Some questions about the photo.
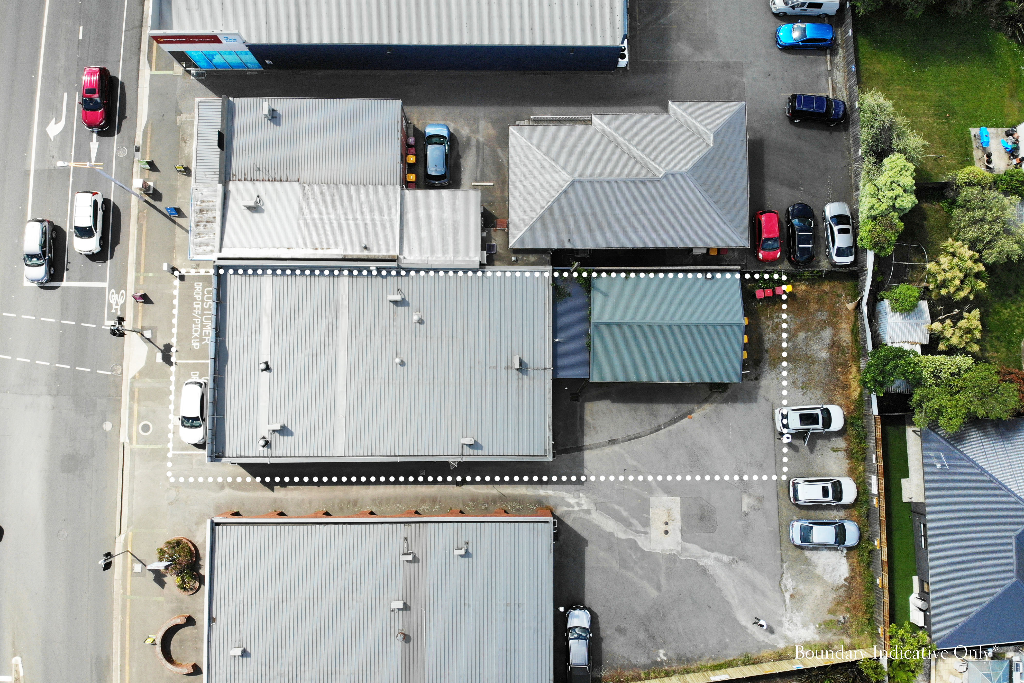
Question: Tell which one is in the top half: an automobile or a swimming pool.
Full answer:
The feature located in the top half is an automobile.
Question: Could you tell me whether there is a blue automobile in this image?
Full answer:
Yes, this view includes a blue automobile.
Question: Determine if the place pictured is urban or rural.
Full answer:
It looks urban.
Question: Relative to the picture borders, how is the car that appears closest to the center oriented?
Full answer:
The car that appears closest to the center is laid out up and down.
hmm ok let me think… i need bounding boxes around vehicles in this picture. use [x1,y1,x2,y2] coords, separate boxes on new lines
[756,209,787,262]
[14,218,55,284]
[563,603,596,683]
[773,0,845,16]
[790,519,863,552]
[65,190,105,254]
[74,66,111,129]
[173,380,209,443]
[788,91,850,125]
[420,123,451,184]
[787,202,820,264]
[823,201,858,264]
[777,402,848,447]
[778,16,838,49]
[790,476,861,510]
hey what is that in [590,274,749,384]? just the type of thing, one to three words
shed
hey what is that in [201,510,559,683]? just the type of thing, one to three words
building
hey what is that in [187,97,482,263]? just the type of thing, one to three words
building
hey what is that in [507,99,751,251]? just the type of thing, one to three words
house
